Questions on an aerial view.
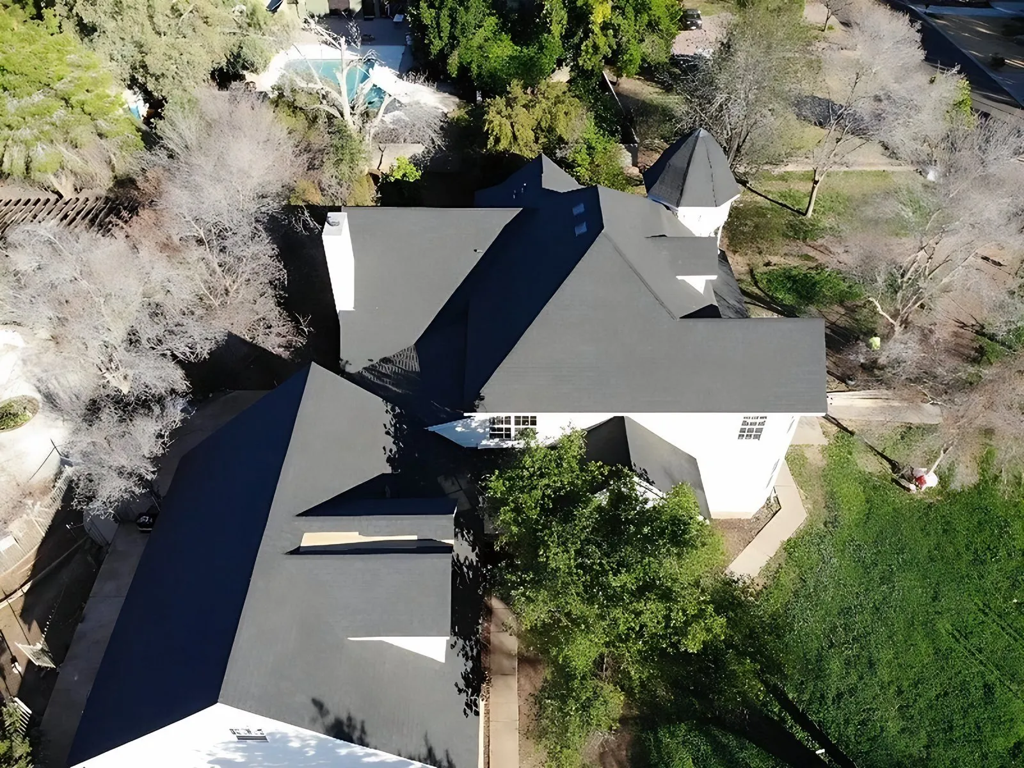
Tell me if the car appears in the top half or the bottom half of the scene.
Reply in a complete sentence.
It is in the top half that the car appears.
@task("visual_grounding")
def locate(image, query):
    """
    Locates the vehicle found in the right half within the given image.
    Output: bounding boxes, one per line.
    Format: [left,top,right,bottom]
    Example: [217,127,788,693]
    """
[676,0,703,25]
